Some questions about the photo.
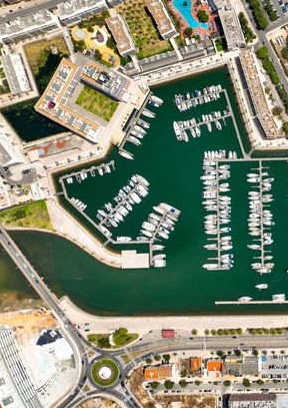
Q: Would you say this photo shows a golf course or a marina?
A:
marina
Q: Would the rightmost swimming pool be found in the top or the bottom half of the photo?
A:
top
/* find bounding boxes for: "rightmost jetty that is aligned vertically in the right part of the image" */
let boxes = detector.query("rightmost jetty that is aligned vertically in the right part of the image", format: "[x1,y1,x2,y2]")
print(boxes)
[250,160,273,268]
